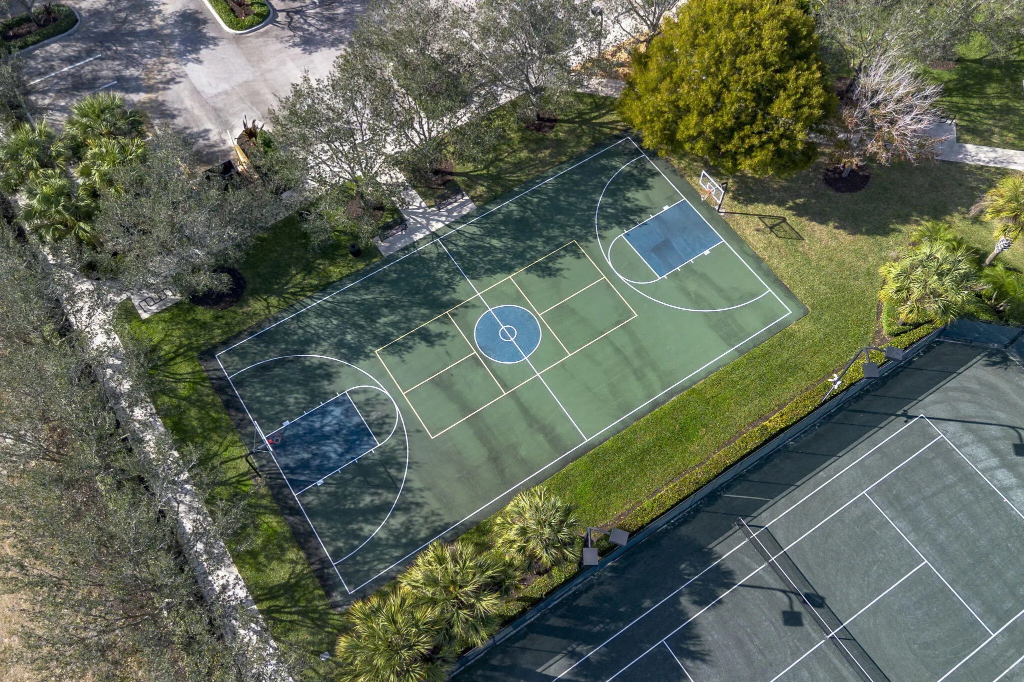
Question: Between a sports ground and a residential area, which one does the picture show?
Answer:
sports ground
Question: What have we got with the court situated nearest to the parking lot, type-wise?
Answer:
basketball court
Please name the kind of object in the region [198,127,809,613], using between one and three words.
basketball court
